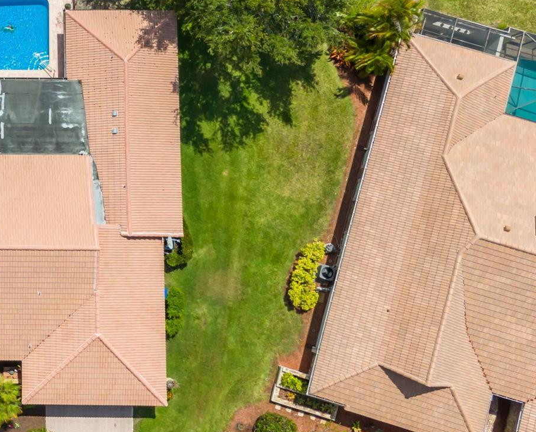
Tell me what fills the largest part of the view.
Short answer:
buildings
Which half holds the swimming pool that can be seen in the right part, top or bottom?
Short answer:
top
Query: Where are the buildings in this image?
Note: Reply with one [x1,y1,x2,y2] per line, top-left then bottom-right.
[307,34,536,432]
[0,7,184,408]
